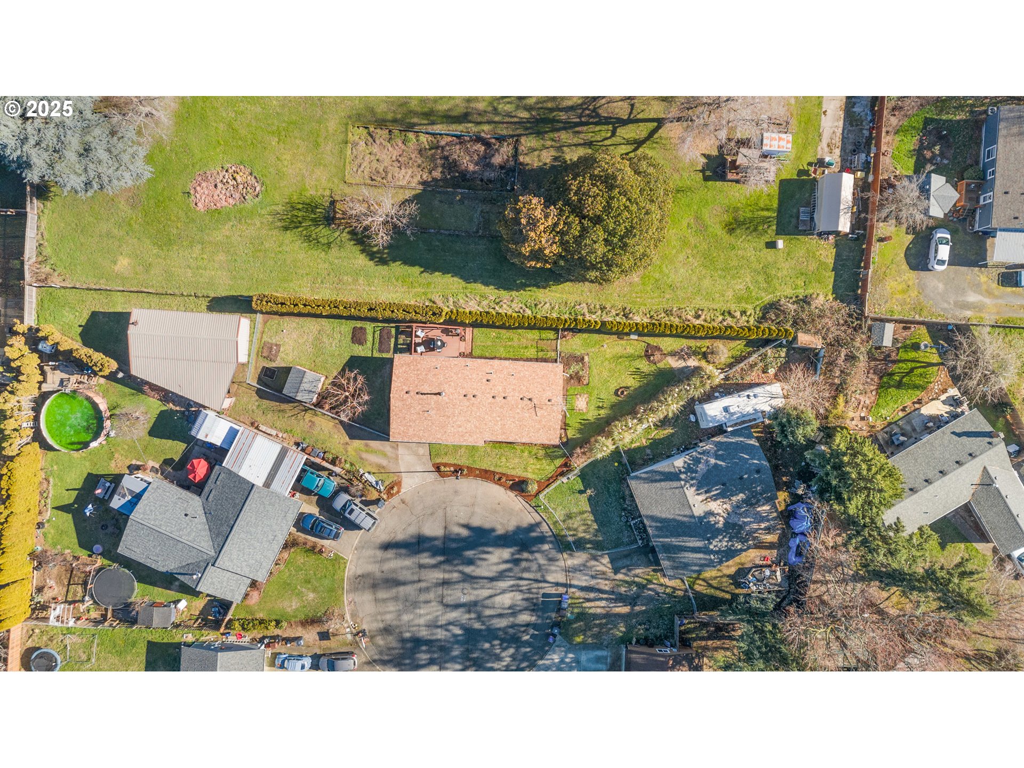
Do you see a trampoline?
Yes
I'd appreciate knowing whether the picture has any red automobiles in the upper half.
No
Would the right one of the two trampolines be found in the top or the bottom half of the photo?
bottom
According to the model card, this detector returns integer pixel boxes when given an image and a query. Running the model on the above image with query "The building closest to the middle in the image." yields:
[390,354,569,446]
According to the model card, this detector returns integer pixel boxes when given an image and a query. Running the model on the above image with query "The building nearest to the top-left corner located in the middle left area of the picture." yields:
[127,308,253,411]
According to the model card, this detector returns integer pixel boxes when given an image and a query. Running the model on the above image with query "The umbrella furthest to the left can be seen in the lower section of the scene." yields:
[187,458,211,482]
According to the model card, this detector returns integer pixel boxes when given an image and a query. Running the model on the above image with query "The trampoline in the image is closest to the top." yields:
[92,563,141,609]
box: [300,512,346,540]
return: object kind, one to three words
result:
car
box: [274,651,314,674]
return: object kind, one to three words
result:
car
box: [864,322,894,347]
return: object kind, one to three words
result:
shed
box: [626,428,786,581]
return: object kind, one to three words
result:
house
